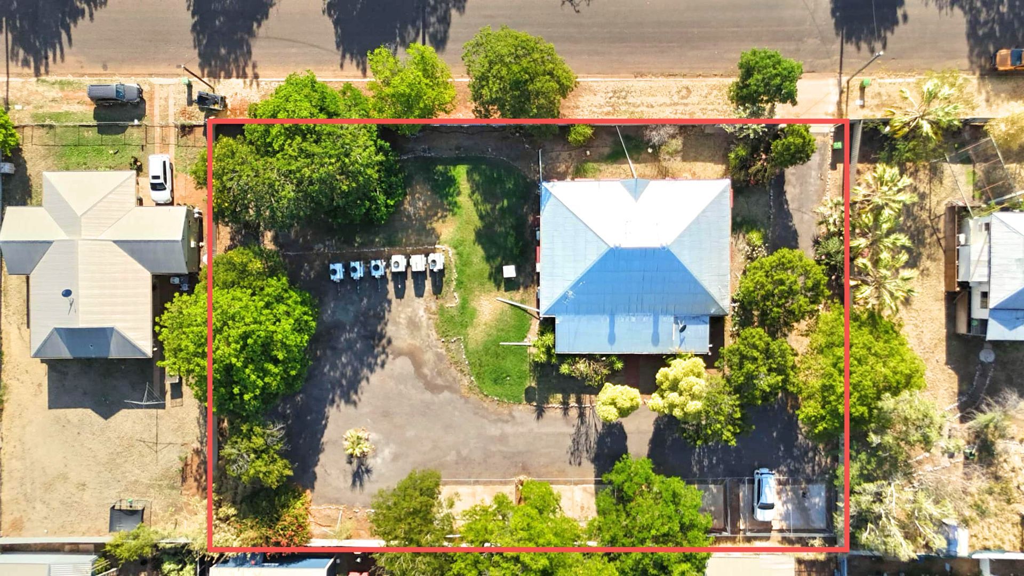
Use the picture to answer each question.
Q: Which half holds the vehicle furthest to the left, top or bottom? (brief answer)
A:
top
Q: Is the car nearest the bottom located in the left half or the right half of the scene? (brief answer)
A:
right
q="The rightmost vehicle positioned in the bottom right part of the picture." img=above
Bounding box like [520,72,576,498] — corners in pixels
[750,467,775,519]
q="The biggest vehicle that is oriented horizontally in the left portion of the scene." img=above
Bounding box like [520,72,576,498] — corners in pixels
[86,83,147,107]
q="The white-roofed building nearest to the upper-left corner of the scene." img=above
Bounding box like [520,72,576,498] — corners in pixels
[0,170,199,359]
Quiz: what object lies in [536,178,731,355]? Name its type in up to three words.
house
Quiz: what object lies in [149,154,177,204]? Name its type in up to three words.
car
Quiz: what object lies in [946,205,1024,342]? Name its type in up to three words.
house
